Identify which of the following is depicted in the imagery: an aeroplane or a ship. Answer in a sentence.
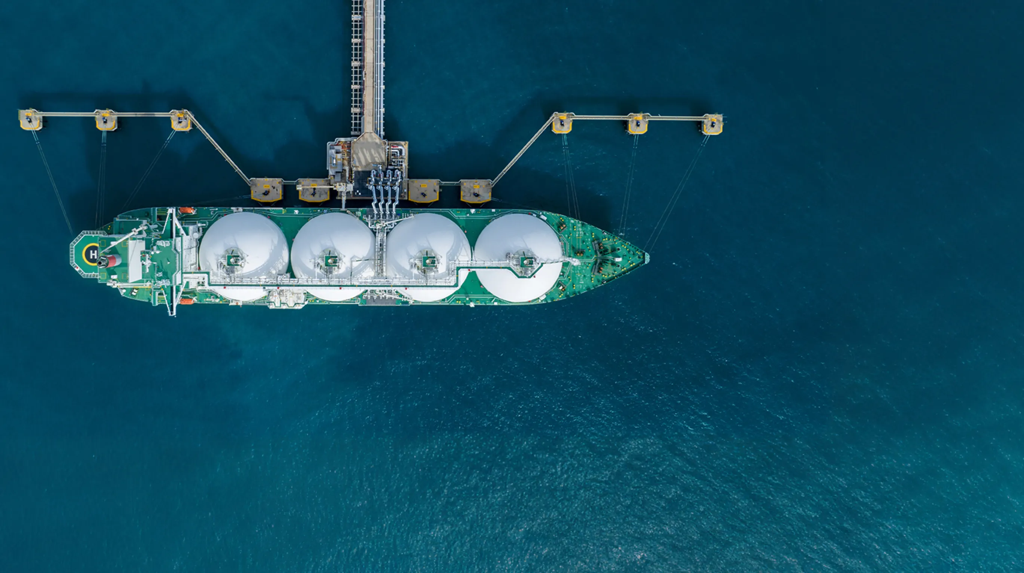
Of the two, only a ship appears.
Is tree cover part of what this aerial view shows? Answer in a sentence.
No, there's no tree cover in this view.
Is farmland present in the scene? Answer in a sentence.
No, the scene doesn't show any farmland.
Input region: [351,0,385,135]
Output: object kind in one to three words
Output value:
pier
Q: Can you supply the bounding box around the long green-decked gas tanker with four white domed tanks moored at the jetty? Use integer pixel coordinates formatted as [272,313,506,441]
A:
[69,206,650,317]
